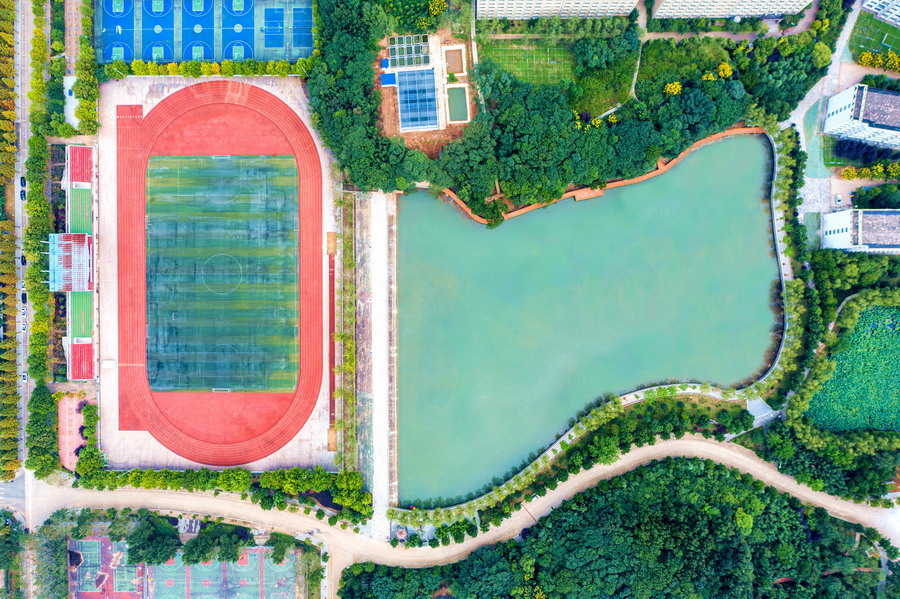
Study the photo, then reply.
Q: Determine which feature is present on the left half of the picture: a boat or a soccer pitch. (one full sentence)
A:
The feature located on the left half of the picture is a soccer pitch.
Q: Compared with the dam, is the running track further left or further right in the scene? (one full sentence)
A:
Compared with the dam, the running track is located further to the left.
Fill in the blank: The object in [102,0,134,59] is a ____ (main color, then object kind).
blue basketball court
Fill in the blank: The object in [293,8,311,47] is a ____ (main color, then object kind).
blue sports court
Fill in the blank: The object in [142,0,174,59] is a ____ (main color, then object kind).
blue basketball court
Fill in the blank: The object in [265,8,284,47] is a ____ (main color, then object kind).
blue sports court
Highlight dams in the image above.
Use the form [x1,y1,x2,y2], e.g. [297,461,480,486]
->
[356,192,395,541]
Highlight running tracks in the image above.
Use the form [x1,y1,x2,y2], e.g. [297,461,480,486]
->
[112,81,322,466]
